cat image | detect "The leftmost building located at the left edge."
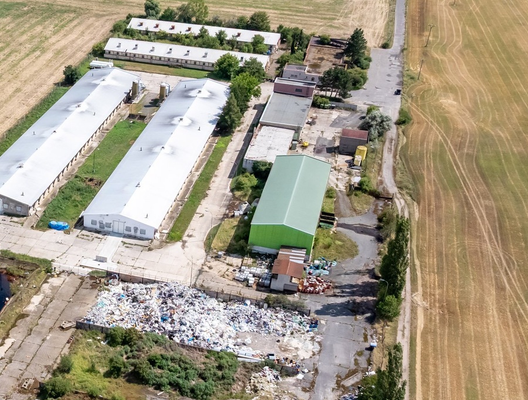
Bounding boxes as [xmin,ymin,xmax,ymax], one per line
[0,68,141,215]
